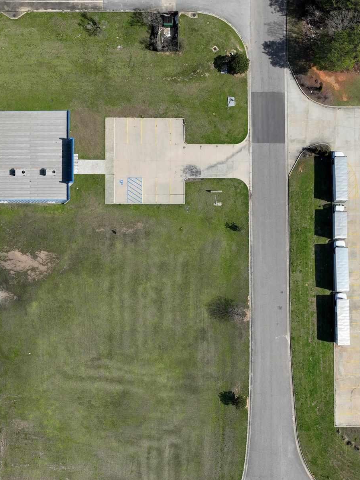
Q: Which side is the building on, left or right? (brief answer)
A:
left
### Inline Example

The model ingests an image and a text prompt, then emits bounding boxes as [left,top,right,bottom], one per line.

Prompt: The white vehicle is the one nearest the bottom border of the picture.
[330,293,349,345]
